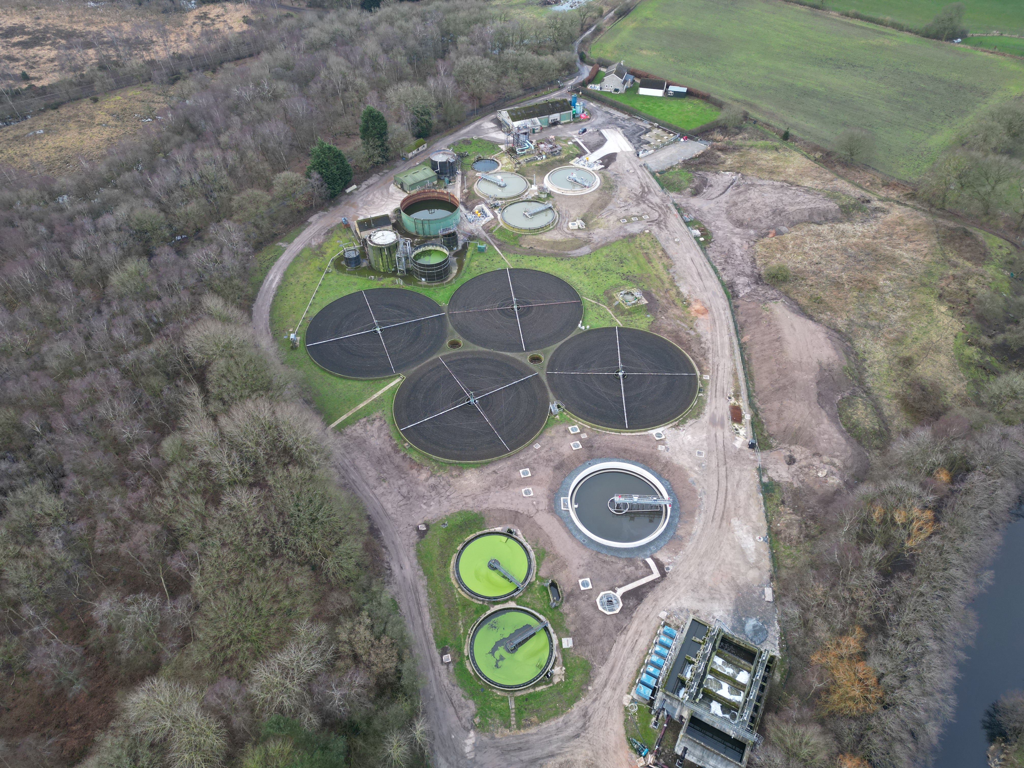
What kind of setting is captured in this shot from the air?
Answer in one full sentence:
The picture captures an industrial area.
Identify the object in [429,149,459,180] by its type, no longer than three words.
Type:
storage tank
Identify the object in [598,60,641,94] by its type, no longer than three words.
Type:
house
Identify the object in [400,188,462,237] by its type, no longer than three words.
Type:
storage tank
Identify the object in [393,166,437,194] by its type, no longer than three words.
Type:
shed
